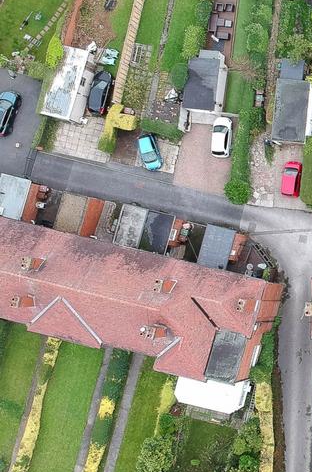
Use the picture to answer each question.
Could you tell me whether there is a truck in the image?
No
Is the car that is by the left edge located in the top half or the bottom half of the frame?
top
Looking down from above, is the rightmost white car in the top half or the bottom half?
top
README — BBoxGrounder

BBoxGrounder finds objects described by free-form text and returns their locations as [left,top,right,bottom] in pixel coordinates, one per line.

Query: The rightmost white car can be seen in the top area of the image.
[211,117,235,158]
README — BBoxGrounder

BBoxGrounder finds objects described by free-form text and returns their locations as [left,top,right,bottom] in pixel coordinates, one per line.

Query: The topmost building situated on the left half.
[41,46,104,121]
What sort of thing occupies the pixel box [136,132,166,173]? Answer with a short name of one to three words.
car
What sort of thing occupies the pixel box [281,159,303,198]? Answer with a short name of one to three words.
car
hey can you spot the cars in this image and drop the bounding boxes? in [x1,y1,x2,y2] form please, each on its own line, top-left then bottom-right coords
[211,117,235,158]
[281,159,303,198]
[136,132,166,173]
[0,92,24,137]
[88,71,114,115]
